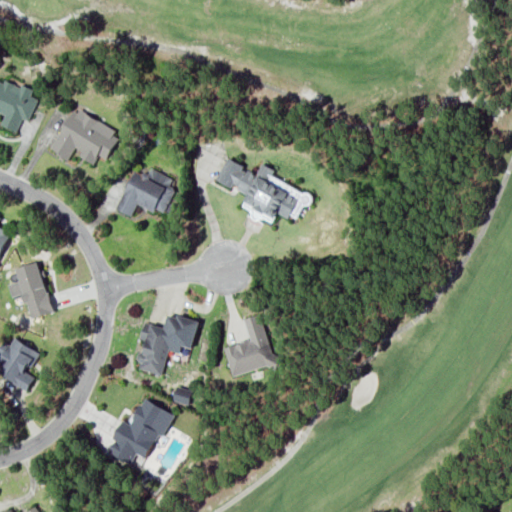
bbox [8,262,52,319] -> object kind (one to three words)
house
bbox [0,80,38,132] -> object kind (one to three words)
house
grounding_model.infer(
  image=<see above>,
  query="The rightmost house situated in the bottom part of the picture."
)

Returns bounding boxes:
[226,316,278,375]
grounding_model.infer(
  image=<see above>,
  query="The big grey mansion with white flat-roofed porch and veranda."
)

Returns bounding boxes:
[216,158,314,224]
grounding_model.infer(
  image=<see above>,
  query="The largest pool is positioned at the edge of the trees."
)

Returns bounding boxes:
[144,428,192,483]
